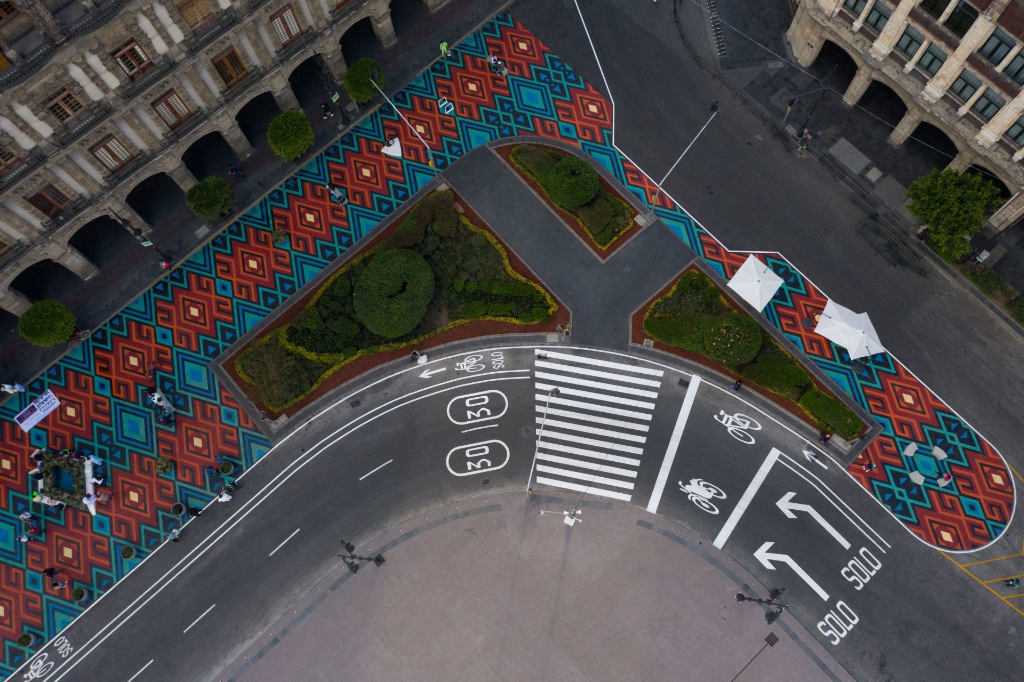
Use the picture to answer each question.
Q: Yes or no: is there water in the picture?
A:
No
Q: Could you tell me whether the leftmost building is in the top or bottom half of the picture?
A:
top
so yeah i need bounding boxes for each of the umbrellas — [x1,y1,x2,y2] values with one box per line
[846,312,884,375]
[800,299,857,349]
[726,254,784,314]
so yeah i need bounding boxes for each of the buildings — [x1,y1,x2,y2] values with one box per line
[785,0,1024,229]
[0,0,442,315]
